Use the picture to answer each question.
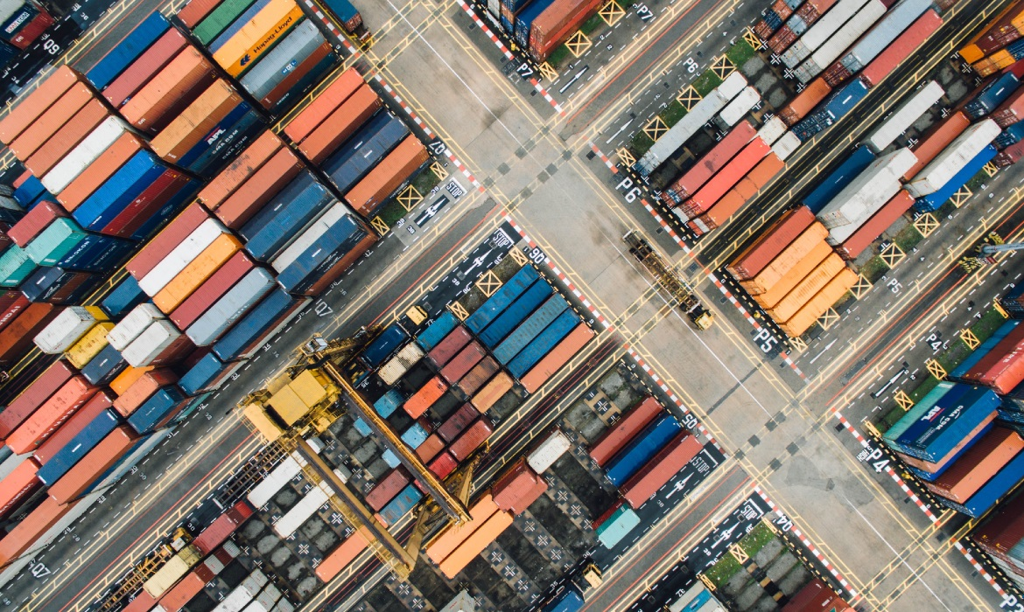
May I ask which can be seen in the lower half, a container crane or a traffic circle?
container crane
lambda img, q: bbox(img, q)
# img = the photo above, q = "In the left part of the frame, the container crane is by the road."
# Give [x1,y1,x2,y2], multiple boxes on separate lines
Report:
[240,321,487,585]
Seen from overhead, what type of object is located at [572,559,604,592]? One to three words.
truck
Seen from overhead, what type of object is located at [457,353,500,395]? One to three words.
shipping container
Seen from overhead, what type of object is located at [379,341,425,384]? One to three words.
shipping container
